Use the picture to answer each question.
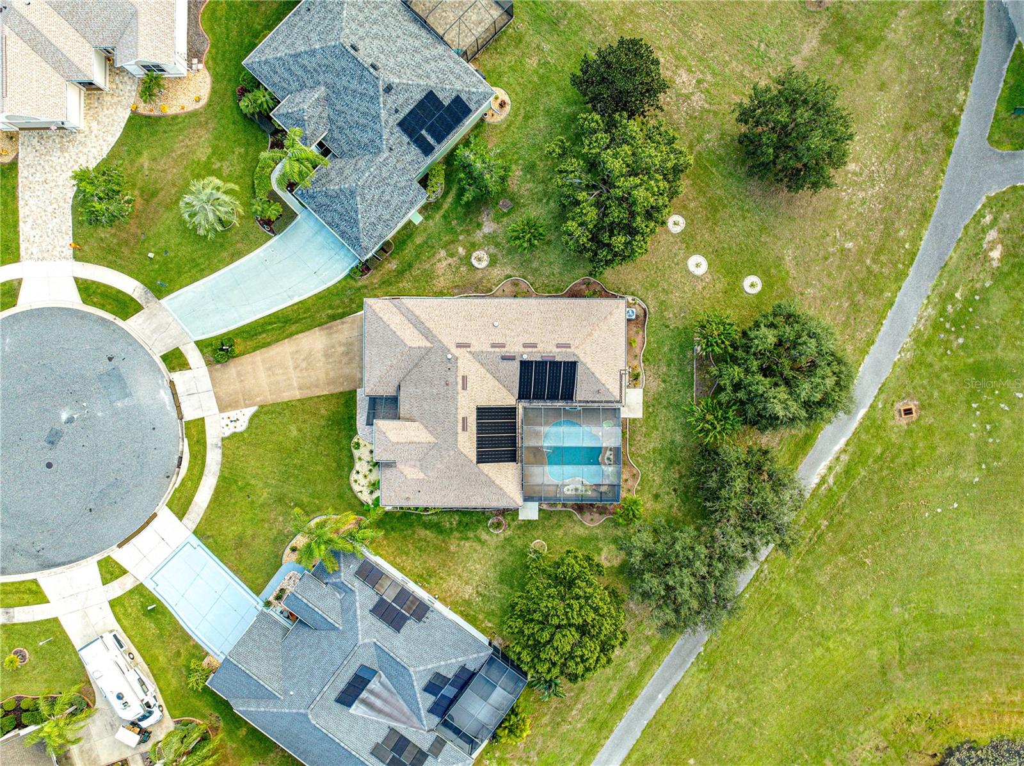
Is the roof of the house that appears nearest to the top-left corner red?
No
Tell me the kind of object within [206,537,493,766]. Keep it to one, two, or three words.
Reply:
house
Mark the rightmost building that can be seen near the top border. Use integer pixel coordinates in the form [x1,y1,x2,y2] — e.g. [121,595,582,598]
[242,0,497,260]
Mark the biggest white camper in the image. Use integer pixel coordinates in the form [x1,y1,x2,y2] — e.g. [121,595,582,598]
[78,628,166,725]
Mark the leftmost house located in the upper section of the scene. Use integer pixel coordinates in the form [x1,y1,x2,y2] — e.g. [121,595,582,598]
[0,0,185,128]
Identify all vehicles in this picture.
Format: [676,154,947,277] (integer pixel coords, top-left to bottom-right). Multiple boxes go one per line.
[78,628,166,725]
[117,718,152,747]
